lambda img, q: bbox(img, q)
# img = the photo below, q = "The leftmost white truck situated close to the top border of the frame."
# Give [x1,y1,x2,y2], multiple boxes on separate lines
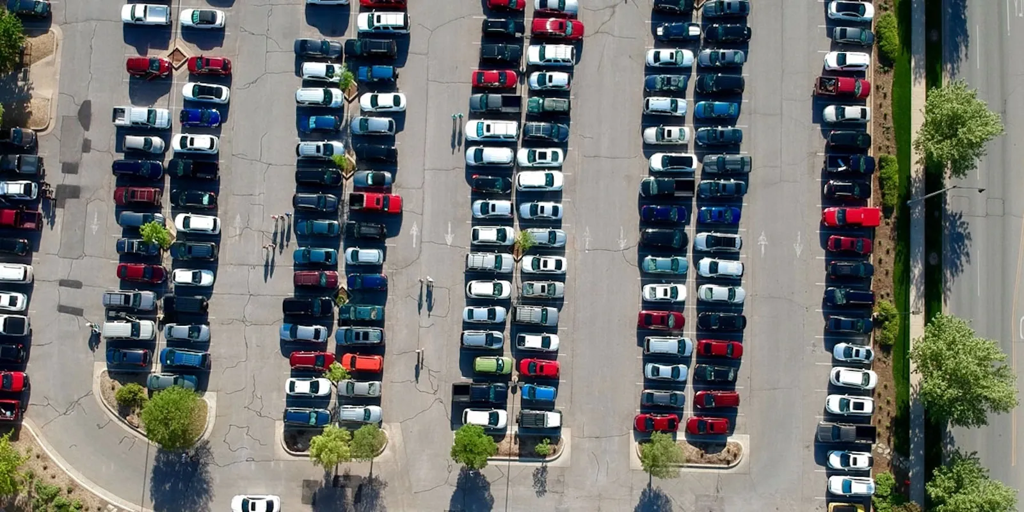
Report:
[122,1,173,26]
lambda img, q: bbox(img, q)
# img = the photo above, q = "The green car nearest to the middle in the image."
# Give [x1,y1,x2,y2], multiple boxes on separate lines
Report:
[474,356,513,376]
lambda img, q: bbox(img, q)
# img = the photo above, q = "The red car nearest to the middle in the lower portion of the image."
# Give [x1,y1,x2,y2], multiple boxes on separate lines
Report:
[520,358,560,378]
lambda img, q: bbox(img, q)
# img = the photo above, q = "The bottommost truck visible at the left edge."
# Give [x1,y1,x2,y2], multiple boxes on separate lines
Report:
[0,400,23,421]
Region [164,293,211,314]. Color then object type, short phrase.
black truck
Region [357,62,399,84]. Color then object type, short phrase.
blue car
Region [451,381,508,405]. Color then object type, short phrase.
black truck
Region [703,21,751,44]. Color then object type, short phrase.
black car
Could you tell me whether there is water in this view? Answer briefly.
No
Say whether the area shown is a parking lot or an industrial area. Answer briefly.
parking lot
